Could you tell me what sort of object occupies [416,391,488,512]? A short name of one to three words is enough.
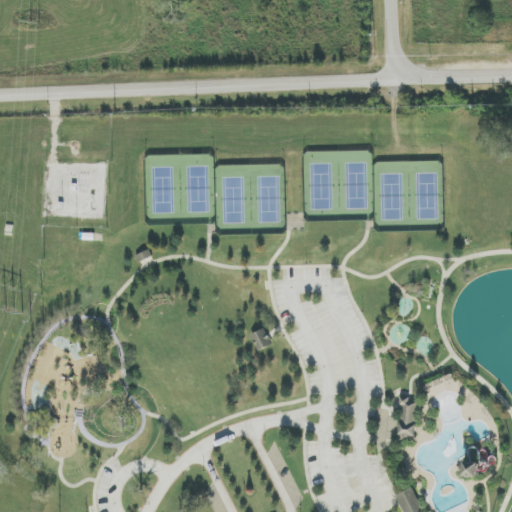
swimming pool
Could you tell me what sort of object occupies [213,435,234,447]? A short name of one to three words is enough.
vehicle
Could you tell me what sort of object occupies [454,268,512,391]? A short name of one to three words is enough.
pond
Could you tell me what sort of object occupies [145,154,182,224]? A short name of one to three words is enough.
tennis court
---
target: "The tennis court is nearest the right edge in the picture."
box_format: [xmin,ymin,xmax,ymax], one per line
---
[408,160,444,230]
